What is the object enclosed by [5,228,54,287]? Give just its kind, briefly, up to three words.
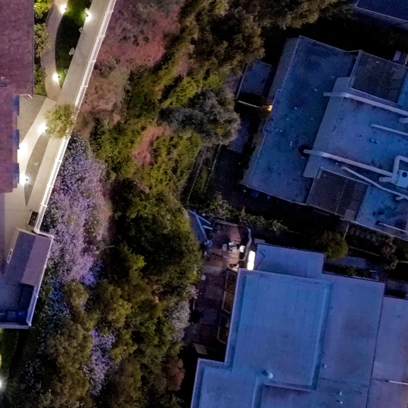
shed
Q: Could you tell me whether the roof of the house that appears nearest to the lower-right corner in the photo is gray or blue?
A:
blue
